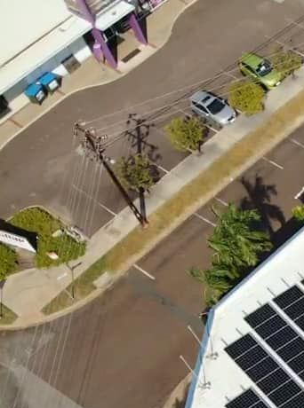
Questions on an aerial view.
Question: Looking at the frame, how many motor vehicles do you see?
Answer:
2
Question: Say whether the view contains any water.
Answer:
No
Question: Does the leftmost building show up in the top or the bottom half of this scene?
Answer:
top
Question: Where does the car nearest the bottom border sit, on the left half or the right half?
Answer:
right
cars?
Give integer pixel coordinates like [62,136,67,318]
[184,85,240,130]
[232,50,286,94]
